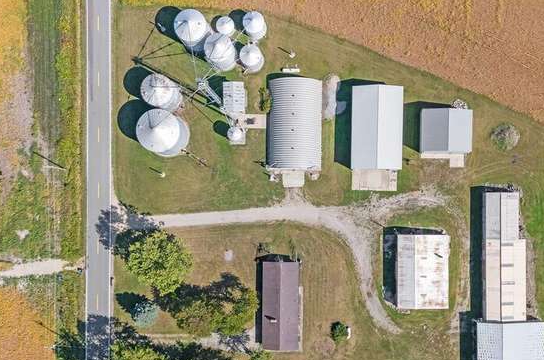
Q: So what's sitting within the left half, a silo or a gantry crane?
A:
silo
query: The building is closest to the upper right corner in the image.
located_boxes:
[418,107,473,153]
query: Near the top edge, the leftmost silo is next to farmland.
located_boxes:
[174,11,213,59]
